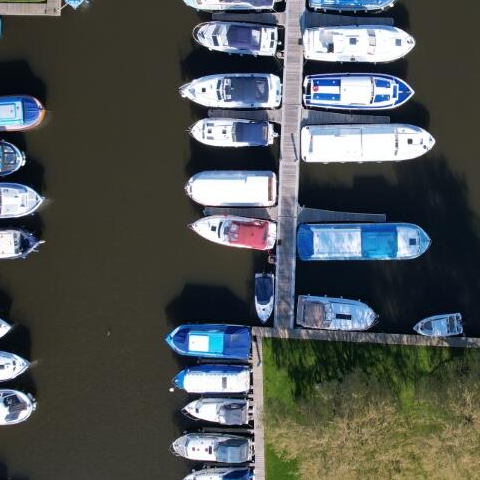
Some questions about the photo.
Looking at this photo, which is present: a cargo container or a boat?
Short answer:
boat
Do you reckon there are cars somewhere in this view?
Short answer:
No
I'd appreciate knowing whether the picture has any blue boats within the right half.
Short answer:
Yes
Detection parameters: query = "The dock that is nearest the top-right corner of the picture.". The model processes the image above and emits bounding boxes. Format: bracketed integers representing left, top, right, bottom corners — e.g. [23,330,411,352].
[306,10,394,28]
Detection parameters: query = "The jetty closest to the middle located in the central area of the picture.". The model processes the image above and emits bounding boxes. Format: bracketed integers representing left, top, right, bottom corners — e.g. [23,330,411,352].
[204,208,278,221]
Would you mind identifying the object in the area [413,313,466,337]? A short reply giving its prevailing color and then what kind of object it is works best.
blue boat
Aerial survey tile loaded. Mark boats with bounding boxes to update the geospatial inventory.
[297,74,414,110]
[255,269,274,323]
[413,313,466,337]
[182,171,285,207]
[169,364,256,396]
[182,395,253,425]
[178,73,290,109]
[291,221,434,261]
[0,388,38,428]
[189,0,282,12]
[0,231,41,261]
[187,118,283,149]
[184,464,255,480]
[0,184,46,218]
[189,21,286,58]
[0,141,26,178]
[186,213,284,250]
[294,125,435,164]
[303,0,395,15]
[0,97,46,132]
[296,25,415,65]
[291,293,380,330]
[166,322,259,360]
[167,431,255,464]
[0,349,32,380]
